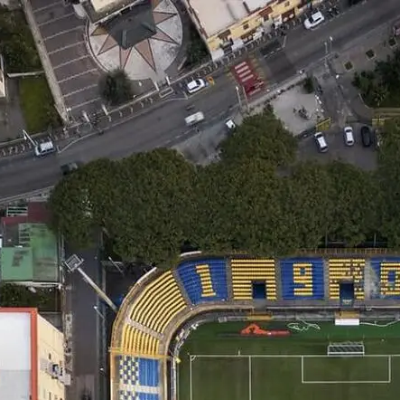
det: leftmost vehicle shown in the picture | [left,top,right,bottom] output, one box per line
[32,138,54,154]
